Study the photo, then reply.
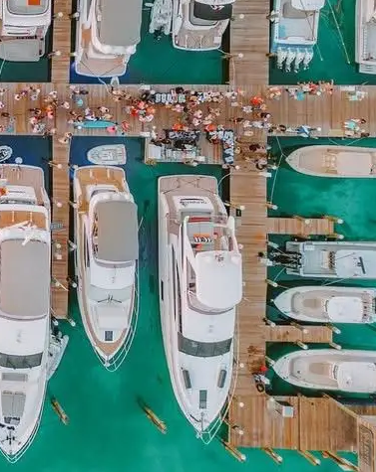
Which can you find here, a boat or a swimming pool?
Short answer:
boat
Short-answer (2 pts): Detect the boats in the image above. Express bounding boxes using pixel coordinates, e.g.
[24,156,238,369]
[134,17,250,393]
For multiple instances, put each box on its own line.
[276,241,376,280]
[348,0,376,74]
[285,146,376,177]
[88,145,127,166]
[74,167,142,371]
[273,347,376,393]
[75,0,143,77]
[171,0,234,50]
[272,0,349,63]
[272,283,376,323]
[0,0,53,61]
[148,0,172,39]
[154,172,241,443]
[0,145,14,160]
[0,165,70,457]
[45,323,70,373]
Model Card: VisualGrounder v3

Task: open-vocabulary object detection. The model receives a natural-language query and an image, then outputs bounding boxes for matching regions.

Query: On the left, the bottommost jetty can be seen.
[50,134,70,319]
